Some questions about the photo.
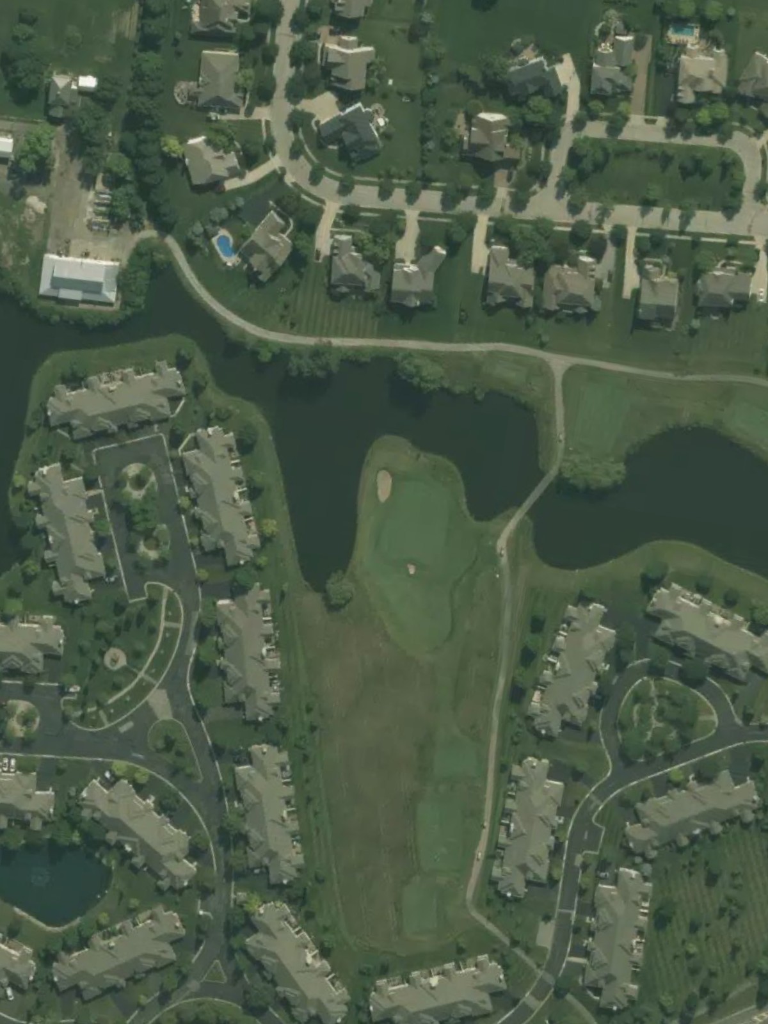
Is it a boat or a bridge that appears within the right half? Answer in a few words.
bridge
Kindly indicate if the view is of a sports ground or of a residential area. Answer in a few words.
residential area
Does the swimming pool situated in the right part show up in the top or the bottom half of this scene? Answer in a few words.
top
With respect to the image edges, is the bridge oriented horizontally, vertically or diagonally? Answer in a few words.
diagonally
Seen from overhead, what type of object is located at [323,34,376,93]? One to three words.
house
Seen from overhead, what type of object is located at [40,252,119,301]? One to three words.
barn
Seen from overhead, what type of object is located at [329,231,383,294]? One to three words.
house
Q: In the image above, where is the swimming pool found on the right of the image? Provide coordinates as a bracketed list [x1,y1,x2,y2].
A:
[667,24,700,44]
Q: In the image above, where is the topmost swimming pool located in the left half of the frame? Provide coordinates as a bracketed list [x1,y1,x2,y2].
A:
[213,229,240,266]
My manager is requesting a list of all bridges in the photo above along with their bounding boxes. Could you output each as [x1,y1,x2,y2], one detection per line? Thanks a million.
[512,466,558,519]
